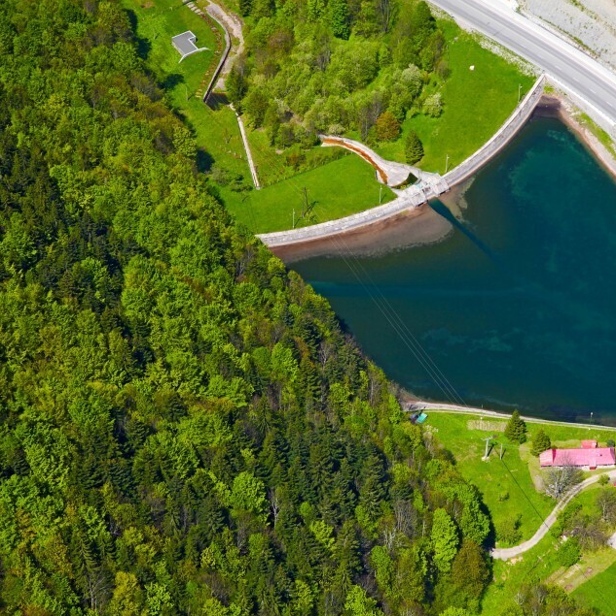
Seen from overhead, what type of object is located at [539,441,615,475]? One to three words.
house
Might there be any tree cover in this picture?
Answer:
Yes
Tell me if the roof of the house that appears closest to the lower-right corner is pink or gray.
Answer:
pink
